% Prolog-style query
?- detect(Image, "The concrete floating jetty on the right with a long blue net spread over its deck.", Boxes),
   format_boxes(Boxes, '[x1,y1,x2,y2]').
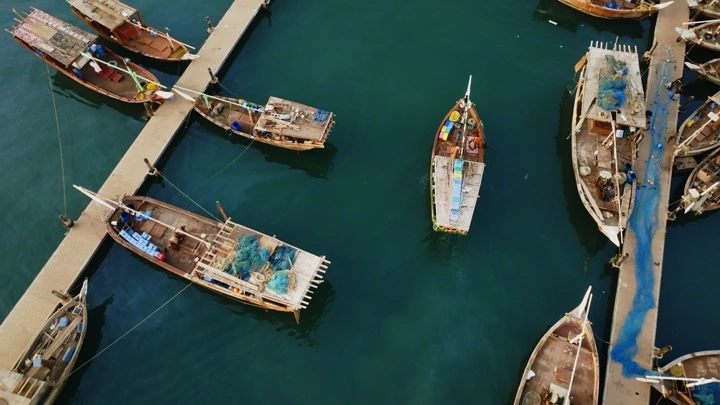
[600,0,689,405]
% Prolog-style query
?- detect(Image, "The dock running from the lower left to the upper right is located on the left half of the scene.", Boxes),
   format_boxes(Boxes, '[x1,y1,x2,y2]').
[0,0,263,380]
